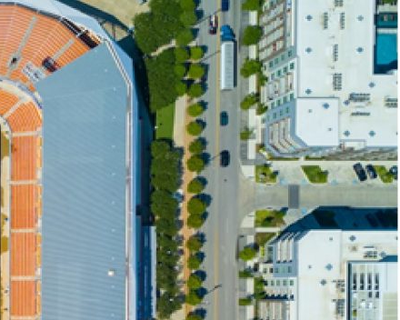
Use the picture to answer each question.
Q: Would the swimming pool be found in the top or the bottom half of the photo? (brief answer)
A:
top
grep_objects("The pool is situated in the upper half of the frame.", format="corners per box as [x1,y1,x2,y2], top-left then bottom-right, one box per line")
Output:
[375,0,400,73]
